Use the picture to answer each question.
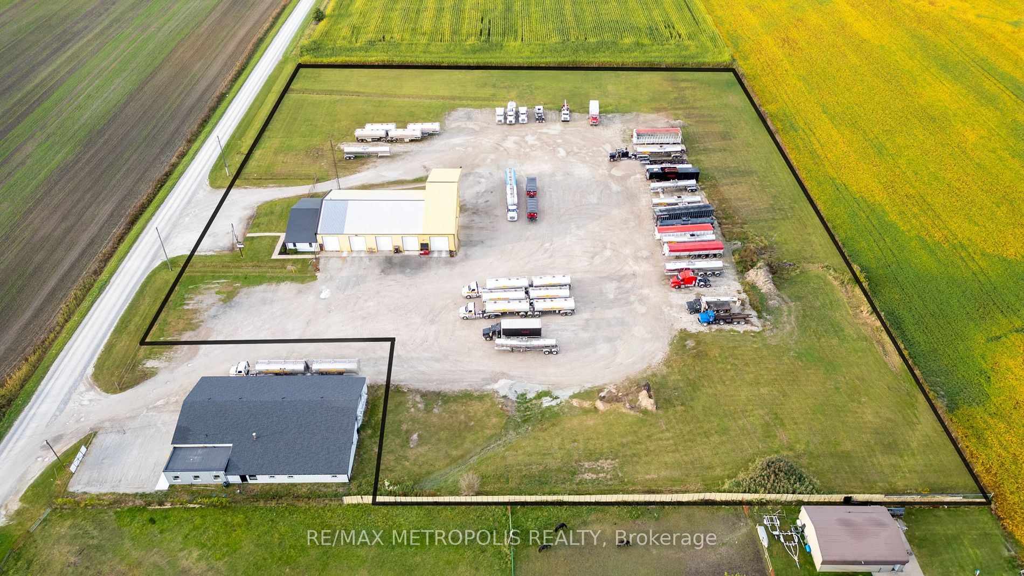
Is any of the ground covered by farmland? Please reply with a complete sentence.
Yes, there is farmland in the image.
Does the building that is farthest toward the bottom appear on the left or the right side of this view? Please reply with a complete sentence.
You can find the building that is farthest toward the bottom on the right side of the picture.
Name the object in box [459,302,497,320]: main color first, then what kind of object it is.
white vehicle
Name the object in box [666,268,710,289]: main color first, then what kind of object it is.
red truck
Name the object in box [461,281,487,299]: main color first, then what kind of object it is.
white vehicle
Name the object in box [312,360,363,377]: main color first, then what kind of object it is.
white trailer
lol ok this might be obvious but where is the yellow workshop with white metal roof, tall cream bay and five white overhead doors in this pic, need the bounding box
[312,167,463,251]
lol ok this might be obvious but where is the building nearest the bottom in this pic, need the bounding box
[799,505,913,573]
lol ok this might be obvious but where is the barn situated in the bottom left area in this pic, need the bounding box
[160,377,370,483]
